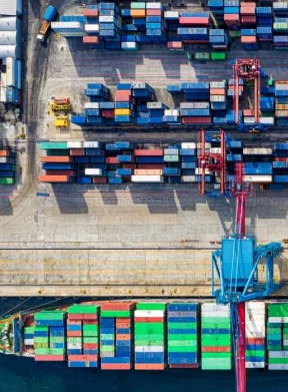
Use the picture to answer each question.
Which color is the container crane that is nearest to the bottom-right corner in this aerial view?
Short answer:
blue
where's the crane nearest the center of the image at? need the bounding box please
[198,130,238,199]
